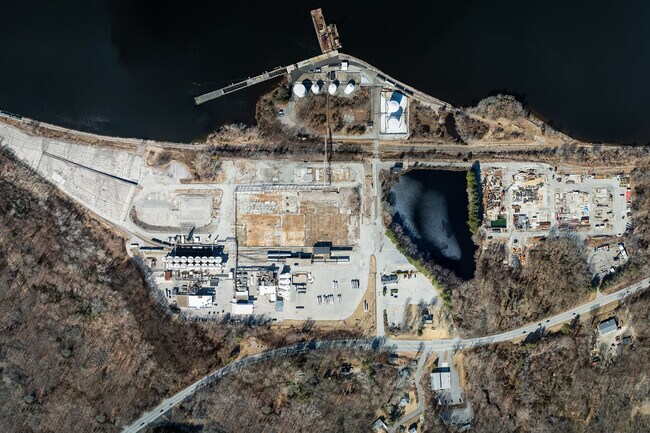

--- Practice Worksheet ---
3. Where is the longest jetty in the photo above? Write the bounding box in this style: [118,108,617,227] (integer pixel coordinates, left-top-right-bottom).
[194,65,292,104]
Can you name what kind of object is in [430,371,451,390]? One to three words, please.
building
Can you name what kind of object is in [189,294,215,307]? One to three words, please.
building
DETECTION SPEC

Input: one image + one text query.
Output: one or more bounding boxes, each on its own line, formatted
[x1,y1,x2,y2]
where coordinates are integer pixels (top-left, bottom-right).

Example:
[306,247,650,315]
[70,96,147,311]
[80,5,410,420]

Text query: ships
[327,24,342,50]
[310,9,331,52]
